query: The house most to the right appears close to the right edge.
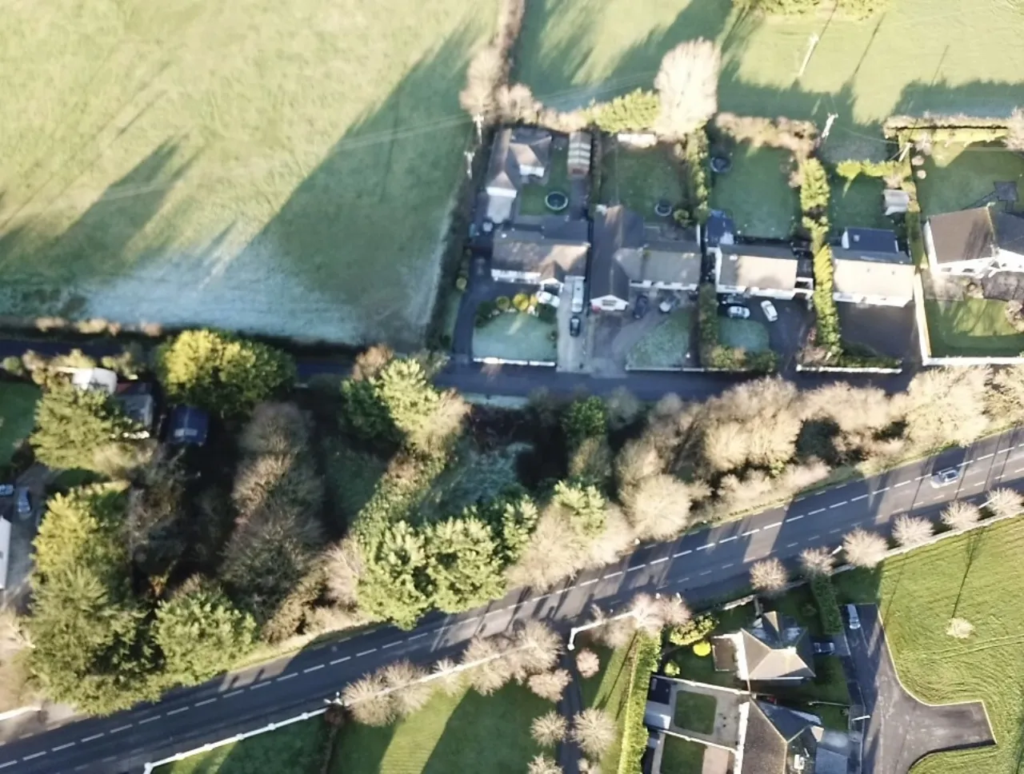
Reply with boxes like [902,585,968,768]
[901,200,1024,283]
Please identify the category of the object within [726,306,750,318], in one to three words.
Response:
vehicle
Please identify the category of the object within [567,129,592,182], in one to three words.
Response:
shed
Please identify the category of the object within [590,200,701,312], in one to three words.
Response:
house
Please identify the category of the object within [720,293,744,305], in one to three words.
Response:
vehicle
